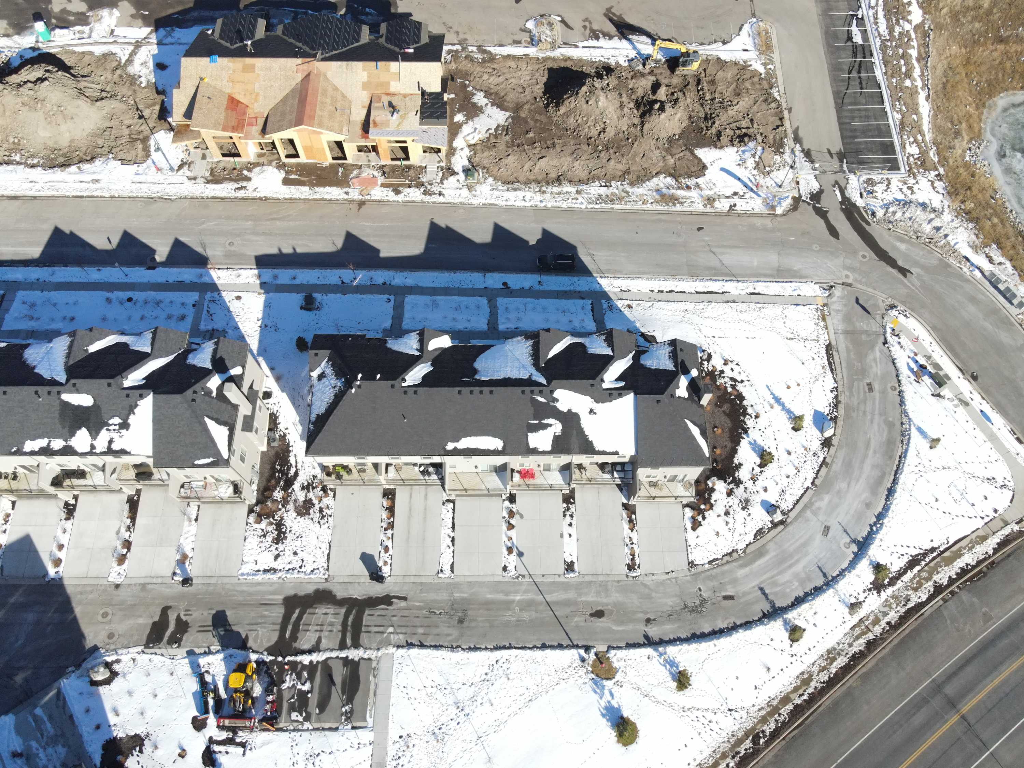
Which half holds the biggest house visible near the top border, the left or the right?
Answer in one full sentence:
The biggest house visible near the top border appears in the left half of the scene.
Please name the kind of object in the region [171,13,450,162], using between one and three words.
house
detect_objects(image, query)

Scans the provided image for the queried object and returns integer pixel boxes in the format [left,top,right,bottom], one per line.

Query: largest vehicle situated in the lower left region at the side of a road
[219,656,259,723]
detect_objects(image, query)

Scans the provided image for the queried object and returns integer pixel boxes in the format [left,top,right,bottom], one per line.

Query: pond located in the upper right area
[980,93,1024,218]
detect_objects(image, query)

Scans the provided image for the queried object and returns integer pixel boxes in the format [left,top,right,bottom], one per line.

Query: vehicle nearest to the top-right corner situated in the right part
[649,30,707,79]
